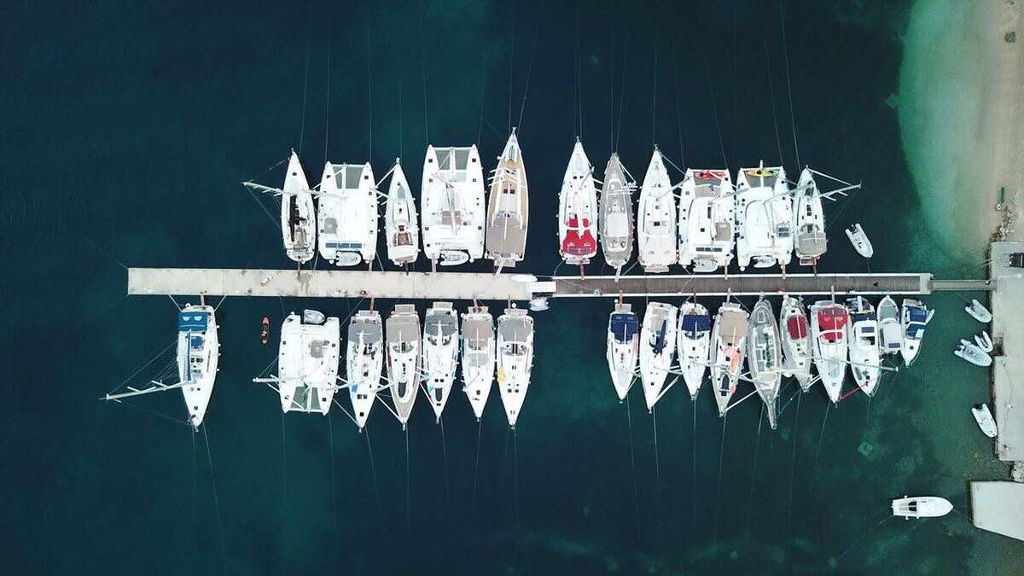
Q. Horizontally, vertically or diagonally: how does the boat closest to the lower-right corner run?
horizontally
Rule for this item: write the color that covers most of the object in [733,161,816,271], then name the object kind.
white boat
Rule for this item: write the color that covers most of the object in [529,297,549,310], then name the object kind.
white boat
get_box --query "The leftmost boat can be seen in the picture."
[99,303,223,430]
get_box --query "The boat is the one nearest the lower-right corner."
[887,496,958,519]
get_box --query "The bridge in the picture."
[927,279,996,292]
